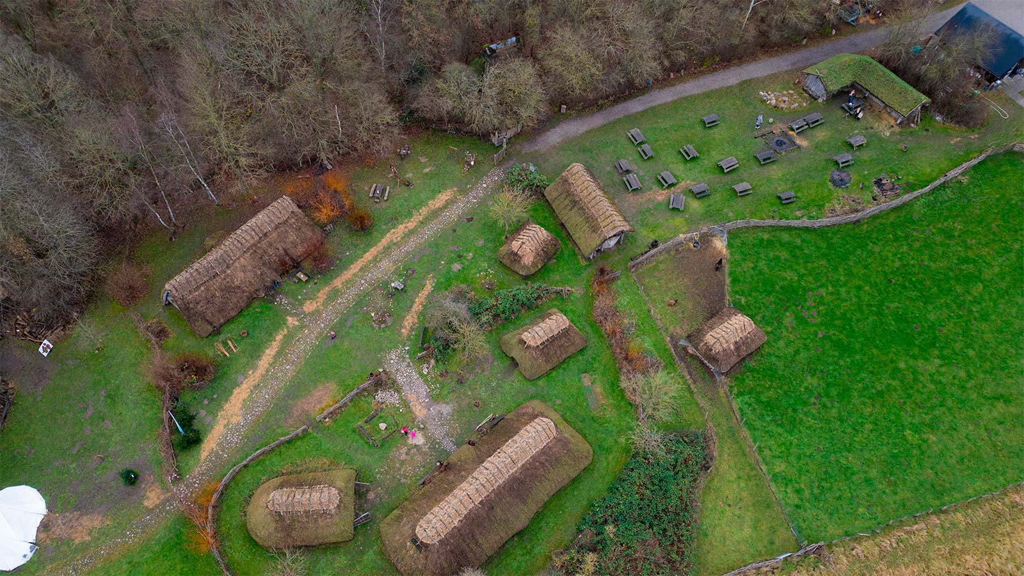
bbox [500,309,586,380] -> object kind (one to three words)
building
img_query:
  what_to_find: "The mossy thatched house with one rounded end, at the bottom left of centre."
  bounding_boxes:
[246,470,356,548]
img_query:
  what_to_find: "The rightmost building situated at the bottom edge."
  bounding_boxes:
[381,401,592,576]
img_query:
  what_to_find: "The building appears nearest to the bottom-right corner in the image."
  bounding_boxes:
[692,310,765,373]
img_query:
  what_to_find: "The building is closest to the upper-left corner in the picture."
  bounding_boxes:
[160,193,325,337]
